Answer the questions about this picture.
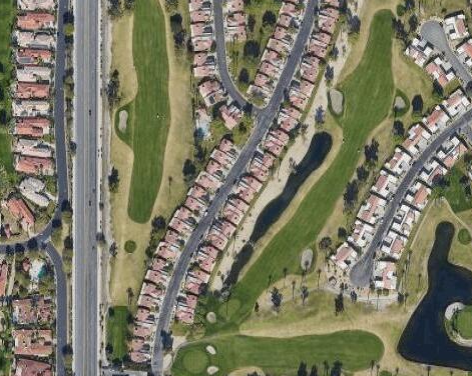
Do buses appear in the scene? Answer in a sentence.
No, I find no bus anywhere in the image.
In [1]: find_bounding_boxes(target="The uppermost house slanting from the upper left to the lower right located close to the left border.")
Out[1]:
[15,175,53,209]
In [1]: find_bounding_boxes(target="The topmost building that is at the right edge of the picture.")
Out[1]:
[443,11,472,43]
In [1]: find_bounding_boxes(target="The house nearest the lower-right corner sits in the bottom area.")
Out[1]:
[369,257,402,288]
